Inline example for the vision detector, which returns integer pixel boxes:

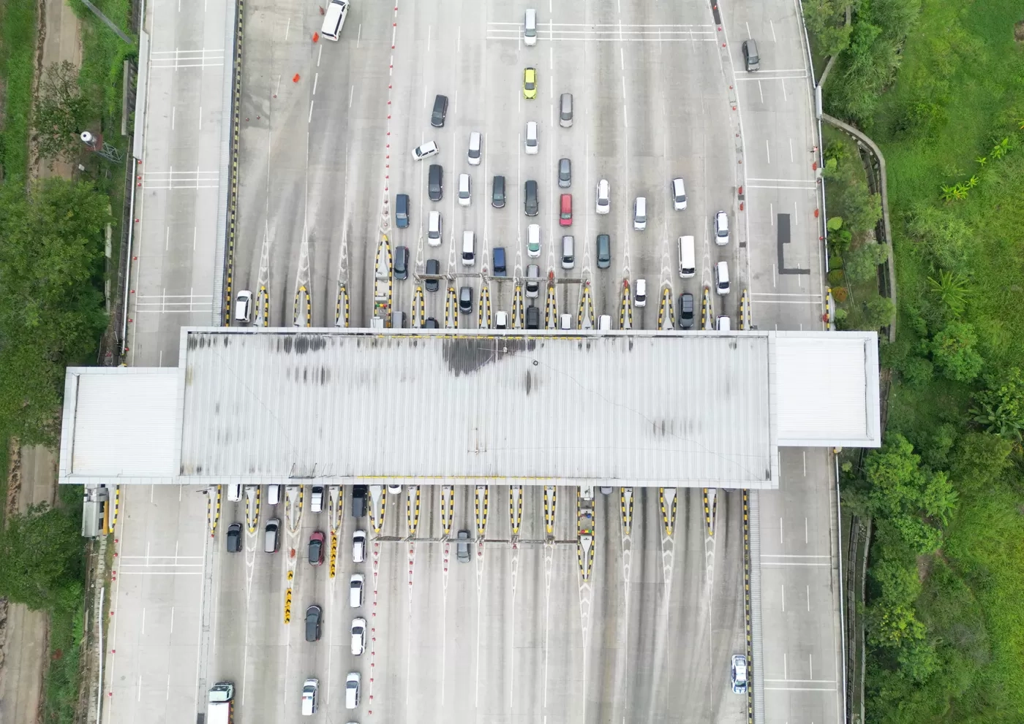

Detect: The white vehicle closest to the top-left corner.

[323,0,347,38]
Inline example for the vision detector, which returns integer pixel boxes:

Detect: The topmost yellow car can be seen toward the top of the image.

[522,69,537,99]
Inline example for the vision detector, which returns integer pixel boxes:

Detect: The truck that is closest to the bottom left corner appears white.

[206,682,232,724]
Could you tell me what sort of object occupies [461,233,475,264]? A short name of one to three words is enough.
vehicle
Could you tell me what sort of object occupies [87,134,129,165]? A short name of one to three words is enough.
water tower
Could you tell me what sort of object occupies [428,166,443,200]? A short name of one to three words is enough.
car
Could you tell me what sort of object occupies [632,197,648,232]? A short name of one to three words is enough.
car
